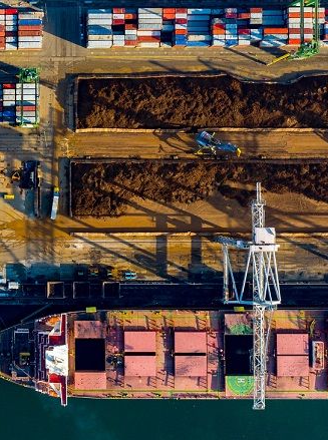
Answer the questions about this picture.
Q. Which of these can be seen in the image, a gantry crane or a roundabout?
gantry crane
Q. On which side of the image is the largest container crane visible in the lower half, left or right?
right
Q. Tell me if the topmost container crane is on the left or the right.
right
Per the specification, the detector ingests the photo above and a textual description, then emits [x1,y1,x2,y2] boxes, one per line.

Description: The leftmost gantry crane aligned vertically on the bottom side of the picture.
[213,182,284,411]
